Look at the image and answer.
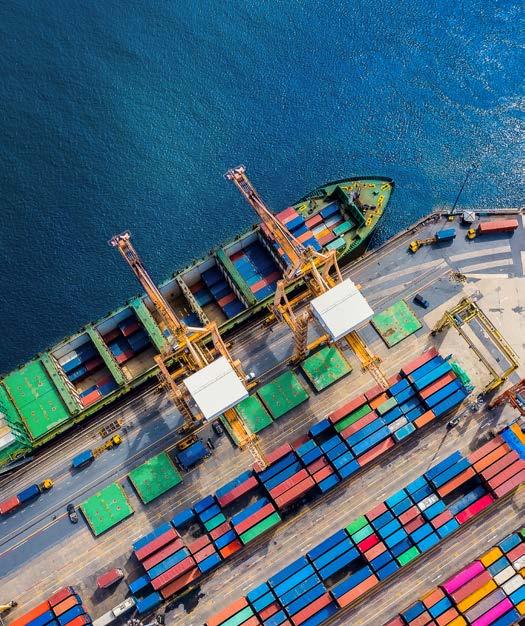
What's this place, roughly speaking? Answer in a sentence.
The picture captures a port.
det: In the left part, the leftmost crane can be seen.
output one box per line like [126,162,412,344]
[109,227,270,469]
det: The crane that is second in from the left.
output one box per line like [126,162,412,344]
[229,166,397,388]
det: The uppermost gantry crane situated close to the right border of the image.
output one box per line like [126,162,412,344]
[428,300,523,396]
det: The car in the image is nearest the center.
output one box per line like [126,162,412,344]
[244,370,260,385]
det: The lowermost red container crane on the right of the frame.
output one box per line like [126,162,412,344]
[486,380,525,421]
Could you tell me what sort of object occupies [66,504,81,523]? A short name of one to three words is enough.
vehicle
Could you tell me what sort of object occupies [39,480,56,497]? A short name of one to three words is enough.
vehicle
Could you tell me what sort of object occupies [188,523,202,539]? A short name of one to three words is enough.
work vehicle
